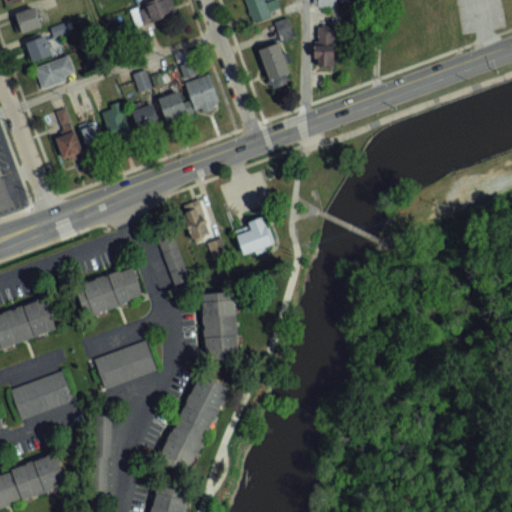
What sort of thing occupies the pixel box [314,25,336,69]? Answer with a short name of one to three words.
house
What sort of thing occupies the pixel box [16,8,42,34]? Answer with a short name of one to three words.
house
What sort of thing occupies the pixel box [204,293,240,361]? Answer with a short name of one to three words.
building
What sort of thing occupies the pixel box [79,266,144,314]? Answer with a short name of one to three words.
building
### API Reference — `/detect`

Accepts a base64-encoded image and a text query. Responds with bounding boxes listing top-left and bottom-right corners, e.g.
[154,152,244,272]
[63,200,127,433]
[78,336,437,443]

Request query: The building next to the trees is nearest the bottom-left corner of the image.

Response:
[0,455,61,506]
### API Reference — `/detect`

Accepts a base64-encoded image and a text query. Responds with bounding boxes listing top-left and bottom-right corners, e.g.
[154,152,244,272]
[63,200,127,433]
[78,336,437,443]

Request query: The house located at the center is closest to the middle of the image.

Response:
[236,218,275,254]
